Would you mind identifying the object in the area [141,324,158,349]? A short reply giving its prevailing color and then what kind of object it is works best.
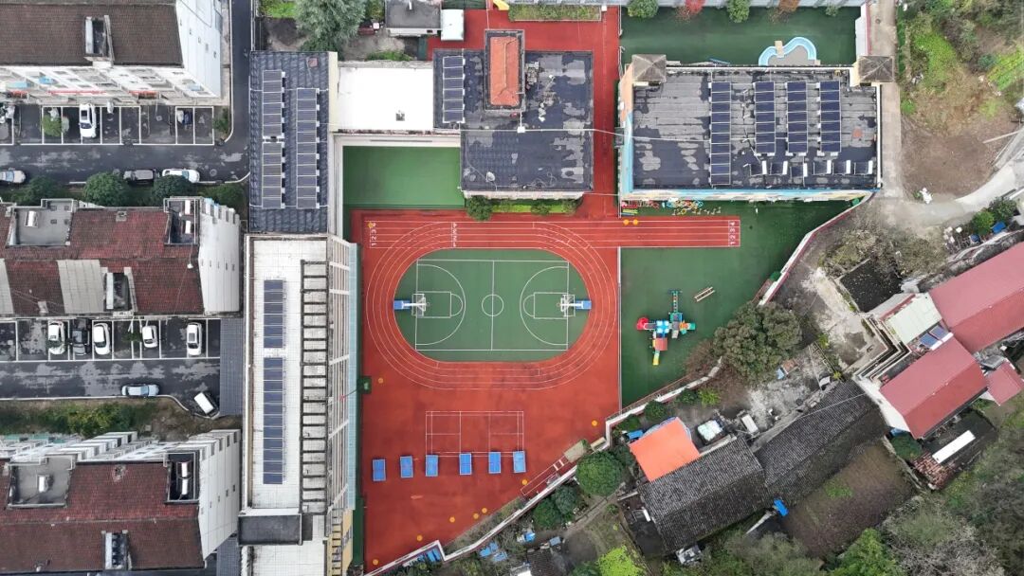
white car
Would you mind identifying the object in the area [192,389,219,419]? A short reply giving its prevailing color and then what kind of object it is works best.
white vehicle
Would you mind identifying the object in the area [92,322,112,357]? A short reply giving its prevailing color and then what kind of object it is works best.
white car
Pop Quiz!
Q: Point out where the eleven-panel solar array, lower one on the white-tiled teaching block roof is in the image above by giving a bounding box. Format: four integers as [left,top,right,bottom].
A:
[264,358,288,484]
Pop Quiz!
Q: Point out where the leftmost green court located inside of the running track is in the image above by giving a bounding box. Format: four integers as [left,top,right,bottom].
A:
[394,248,589,362]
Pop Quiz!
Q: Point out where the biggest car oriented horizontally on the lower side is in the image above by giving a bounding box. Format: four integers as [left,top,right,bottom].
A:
[121,382,160,399]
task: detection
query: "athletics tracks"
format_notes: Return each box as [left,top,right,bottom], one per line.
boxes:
[365,217,741,390]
